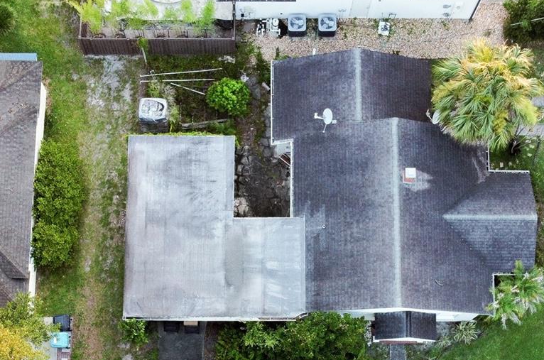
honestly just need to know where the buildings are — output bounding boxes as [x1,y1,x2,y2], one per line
[218,0,485,22]
[123,48,537,349]
[0,52,48,318]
